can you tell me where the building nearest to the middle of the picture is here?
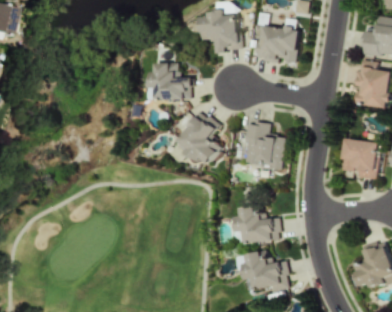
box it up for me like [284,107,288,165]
[168,108,225,167]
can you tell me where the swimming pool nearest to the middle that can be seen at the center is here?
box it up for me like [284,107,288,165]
[152,134,169,152]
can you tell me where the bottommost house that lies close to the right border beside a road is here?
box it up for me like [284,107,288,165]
[350,240,392,292]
